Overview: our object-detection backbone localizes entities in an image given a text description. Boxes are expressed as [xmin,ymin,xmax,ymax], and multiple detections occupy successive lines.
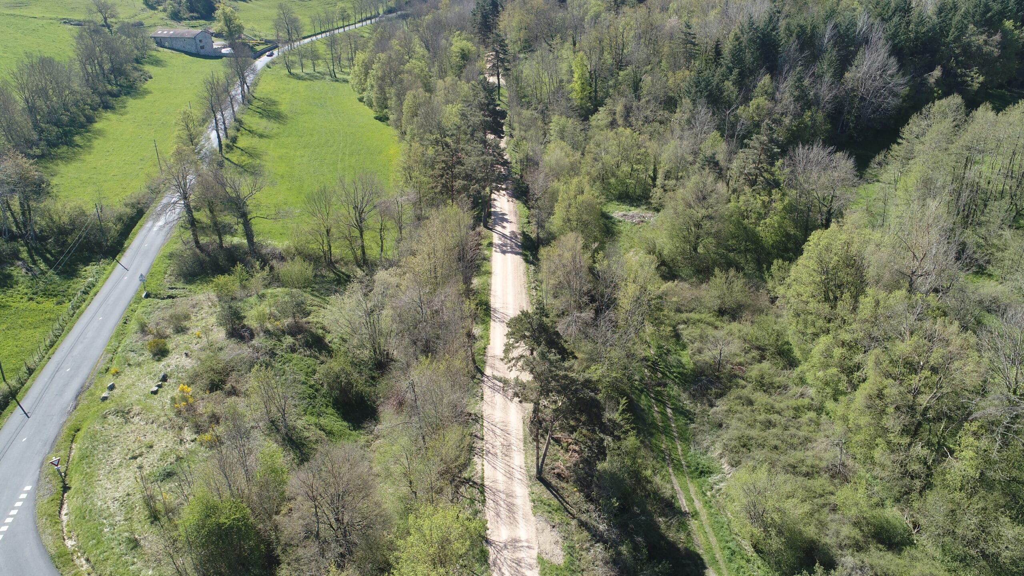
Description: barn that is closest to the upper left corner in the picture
[148,25,216,56]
